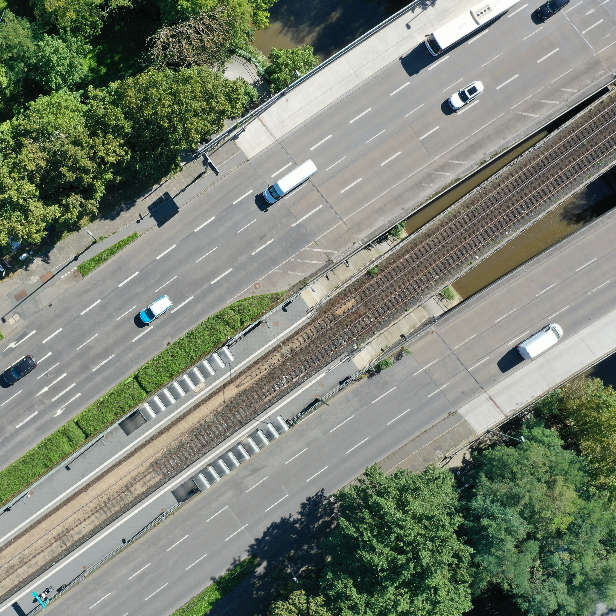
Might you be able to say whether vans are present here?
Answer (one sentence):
Yes, this view includes a van.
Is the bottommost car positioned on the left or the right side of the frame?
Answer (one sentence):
It is on the left.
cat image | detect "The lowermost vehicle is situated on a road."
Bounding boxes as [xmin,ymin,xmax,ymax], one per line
[1,354,39,385]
